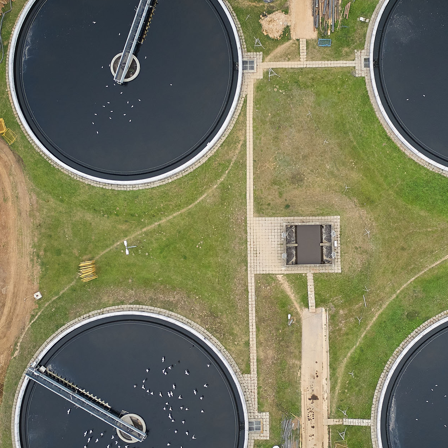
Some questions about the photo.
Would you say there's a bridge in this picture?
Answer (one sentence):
Yes, you can see a bridge in this photo.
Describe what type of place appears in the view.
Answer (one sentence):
This image shows an industrial area.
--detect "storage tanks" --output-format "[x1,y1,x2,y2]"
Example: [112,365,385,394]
[377,316,448,448]
[15,311,249,448]
[369,0,448,172]
[8,0,243,184]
